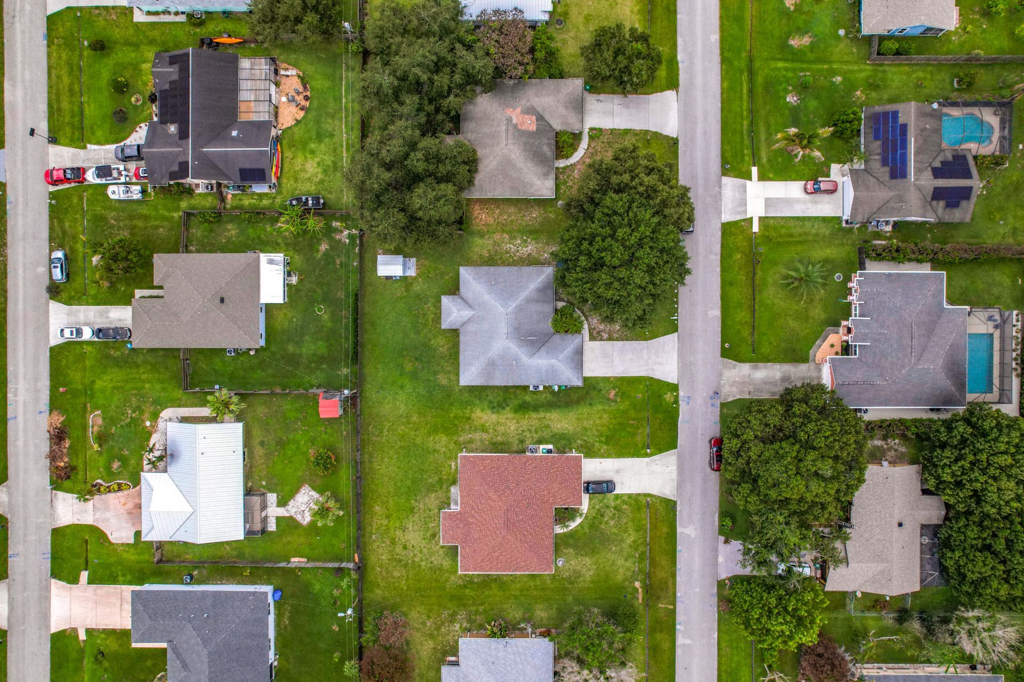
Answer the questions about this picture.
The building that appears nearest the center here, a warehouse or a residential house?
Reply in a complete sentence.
The building that appears nearest the center is a residential house.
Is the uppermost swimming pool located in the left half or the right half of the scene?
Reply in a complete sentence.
The uppermost swimming pool appears in the right half of the scene.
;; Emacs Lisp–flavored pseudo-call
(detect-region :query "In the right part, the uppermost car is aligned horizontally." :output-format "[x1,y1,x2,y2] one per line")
[803,178,838,195]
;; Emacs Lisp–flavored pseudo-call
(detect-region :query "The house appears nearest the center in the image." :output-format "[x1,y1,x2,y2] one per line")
[441,265,584,387]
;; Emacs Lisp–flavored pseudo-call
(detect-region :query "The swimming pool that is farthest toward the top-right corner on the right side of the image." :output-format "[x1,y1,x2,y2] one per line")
[942,112,995,147]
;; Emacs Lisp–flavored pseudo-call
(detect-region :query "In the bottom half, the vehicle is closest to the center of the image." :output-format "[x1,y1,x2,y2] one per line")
[584,480,615,495]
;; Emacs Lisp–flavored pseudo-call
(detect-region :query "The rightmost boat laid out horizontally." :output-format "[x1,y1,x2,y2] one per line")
[289,195,325,209]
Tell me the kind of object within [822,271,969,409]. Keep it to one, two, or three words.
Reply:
house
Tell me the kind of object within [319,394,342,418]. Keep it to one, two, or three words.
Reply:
shed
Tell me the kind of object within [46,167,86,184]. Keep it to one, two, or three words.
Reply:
vehicle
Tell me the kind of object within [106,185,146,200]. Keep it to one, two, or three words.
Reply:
boat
